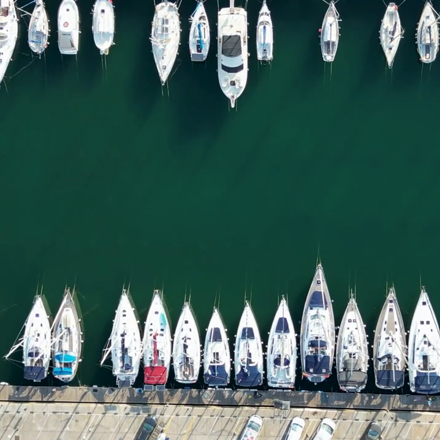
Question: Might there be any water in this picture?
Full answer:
Yes, there's water in this view.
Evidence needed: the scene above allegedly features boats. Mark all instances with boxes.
[56,0,82,55]
[149,0,182,90]
[414,0,440,80]
[92,0,118,65]
[406,277,440,401]
[23,0,52,62]
[105,281,141,393]
[372,276,411,394]
[202,299,231,392]
[187,0,211,77]
[215,0,249,107]
[318,0,341,69]
[39,276,85,387]
[264,290,296,394]
[170,293,201,391]
[139,275,171,392]
[378,0,403,79]
[0,0,21,80]
[334,278,369,400]
[300,258,335,389]
[233,281,263,394]
[255,0,275,62]
[6,279,53,389]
